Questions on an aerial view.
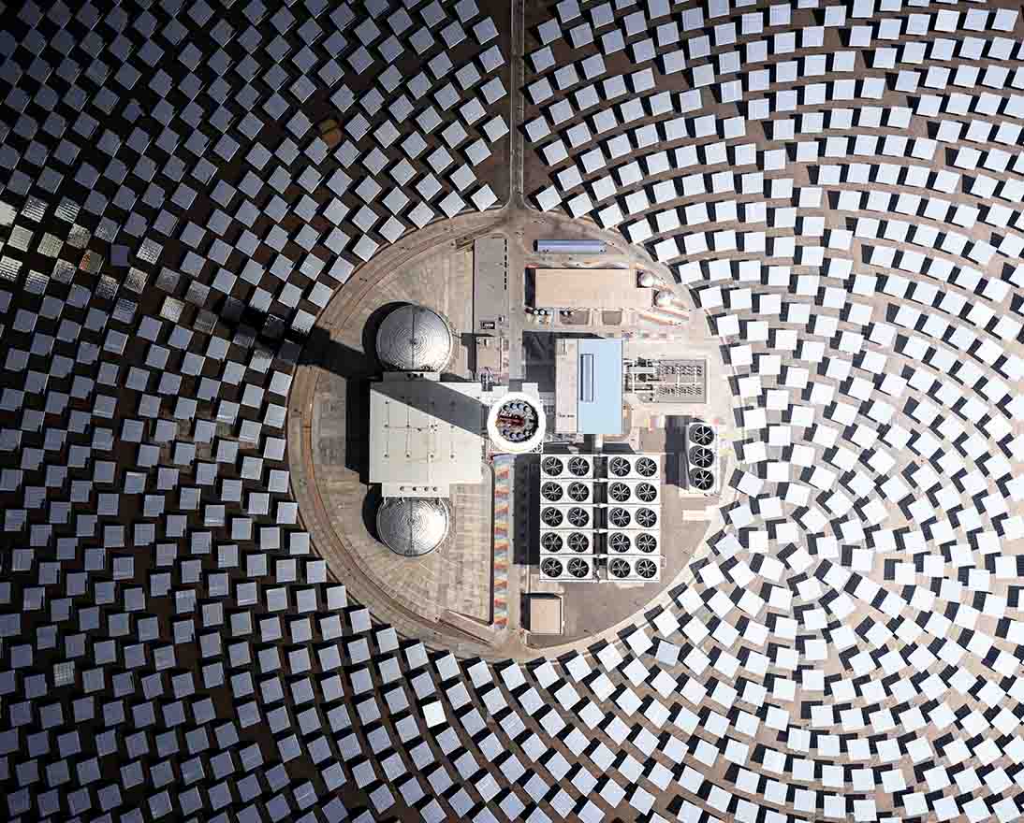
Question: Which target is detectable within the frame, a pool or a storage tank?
storage tank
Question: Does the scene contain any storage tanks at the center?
Yes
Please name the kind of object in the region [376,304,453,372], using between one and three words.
storage tank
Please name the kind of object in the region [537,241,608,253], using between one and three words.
shed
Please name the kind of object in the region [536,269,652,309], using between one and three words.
building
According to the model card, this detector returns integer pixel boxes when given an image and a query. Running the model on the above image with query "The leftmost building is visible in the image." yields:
[370,371,483,502]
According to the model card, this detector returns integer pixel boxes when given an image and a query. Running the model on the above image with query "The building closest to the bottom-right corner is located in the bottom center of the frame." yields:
[526,594,562,637]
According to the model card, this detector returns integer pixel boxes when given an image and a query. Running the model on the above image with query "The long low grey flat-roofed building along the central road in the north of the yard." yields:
[475,238,506,334]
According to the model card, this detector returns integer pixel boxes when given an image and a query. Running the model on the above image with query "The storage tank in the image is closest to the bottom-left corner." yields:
[376,497,450,557]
